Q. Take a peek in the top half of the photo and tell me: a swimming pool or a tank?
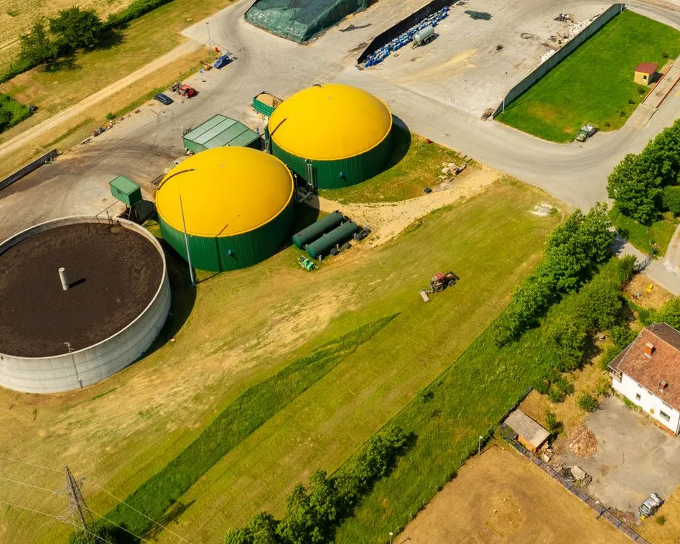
tank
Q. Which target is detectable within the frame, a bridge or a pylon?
pylon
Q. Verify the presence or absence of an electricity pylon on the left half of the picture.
Yes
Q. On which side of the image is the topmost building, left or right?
right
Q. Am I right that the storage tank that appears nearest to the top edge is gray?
No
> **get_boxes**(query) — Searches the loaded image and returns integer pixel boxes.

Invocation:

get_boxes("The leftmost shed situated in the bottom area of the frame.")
[504,409,549,456]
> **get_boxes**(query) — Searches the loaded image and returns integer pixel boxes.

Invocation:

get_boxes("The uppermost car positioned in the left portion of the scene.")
[214,55,231,67]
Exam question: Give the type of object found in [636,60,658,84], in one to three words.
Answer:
building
